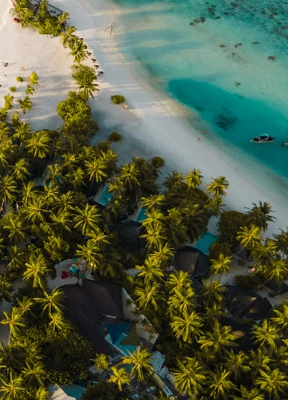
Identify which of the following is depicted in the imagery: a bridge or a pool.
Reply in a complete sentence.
Visible in the photo is a pool.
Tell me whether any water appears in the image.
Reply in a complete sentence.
Yes, there's water in this view.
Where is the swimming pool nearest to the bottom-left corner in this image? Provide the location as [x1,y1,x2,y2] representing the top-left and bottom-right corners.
[115,334,139,360]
